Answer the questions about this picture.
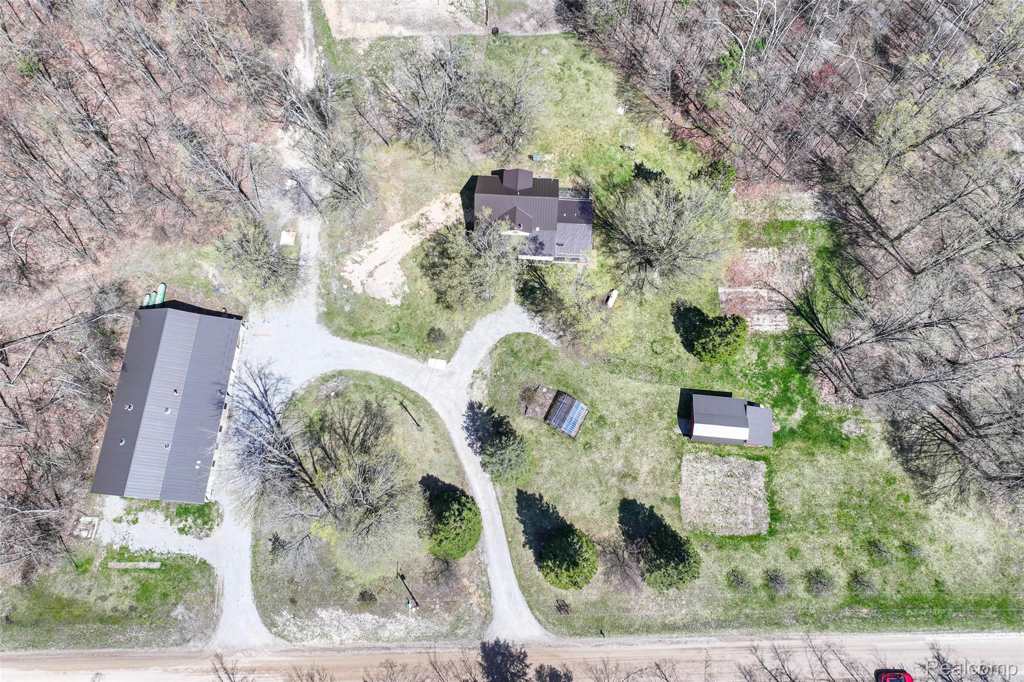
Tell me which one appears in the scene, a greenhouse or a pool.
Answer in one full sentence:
The one in the frame is a greenhouse.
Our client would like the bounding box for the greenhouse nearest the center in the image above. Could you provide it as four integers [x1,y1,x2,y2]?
[543,391,592,439]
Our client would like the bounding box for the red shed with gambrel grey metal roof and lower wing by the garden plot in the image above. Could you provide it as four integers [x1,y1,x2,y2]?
[679,397,769,448]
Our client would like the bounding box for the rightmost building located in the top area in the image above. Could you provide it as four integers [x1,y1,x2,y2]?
[473,164,592,272]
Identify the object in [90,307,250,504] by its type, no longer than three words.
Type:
barn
